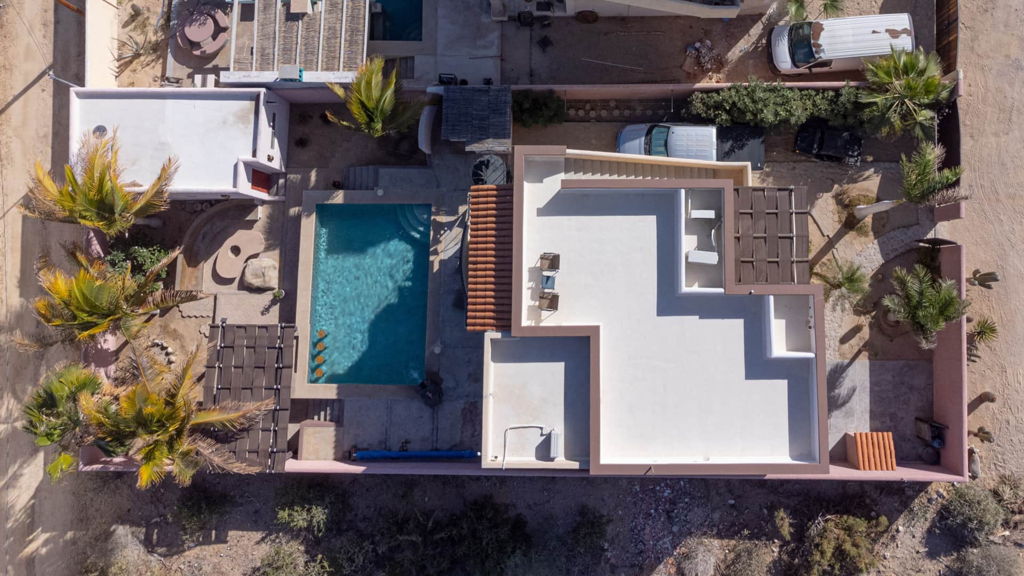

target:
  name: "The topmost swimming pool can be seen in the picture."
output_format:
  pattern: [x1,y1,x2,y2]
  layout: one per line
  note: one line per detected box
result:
[369,0,422,41]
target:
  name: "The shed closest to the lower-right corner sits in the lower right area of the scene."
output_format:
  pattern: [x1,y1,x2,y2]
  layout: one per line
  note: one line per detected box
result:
[846,429,898,471]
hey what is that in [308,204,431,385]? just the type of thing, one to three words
swimming pool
